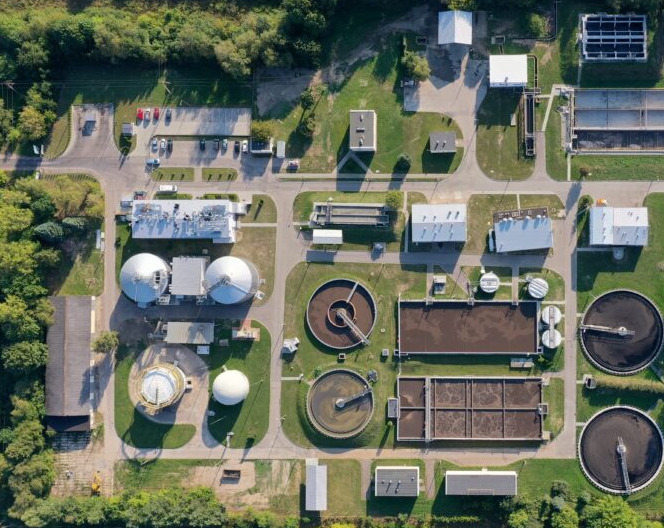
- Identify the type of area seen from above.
industrial area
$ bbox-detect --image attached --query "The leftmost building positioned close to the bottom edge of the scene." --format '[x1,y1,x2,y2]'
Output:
[306,455,328,510]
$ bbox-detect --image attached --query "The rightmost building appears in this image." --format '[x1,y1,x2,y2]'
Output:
[587,207,648,254]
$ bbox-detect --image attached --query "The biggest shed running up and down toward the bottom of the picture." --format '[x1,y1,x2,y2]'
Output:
[47,296,99,416]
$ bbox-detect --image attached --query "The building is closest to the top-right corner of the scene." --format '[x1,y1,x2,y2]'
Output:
[489,54,527,89]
